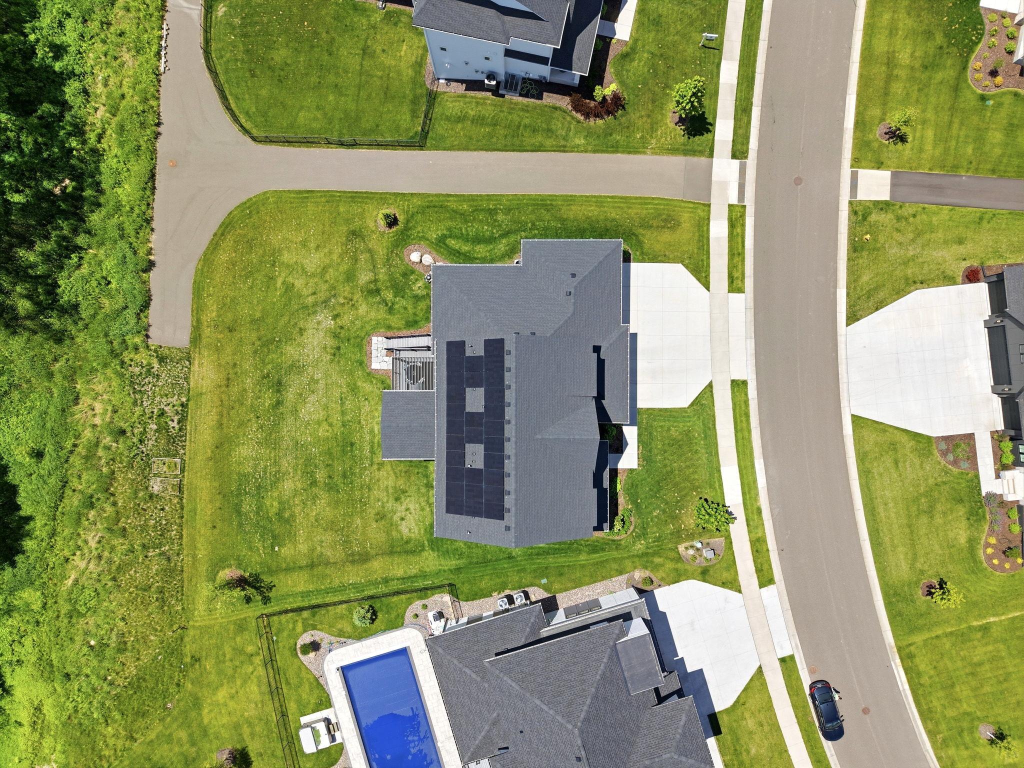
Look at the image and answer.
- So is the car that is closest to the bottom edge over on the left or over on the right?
right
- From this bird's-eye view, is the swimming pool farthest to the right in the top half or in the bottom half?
bottom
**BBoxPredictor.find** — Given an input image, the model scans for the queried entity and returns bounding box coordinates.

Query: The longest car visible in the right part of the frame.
[808,680,845,742]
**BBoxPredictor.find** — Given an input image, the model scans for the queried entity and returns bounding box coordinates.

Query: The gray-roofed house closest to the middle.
[380,238,630,547]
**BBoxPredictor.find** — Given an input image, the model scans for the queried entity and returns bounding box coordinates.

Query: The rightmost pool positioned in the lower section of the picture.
[337,642,445,768]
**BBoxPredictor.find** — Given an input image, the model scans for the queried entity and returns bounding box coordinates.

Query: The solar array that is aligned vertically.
[445,339,504,520]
